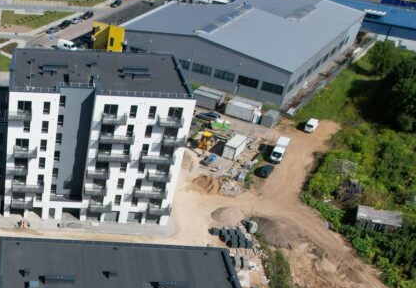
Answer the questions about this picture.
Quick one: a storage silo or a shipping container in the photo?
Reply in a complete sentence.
It is a shipping container that can be seen here.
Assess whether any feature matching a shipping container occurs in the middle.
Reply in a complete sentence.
Yes, you'll find a shipping container in the middle.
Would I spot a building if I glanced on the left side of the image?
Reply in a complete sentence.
Yes, you'll find a building on the left side of the image.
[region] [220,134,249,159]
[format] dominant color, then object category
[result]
white shipping container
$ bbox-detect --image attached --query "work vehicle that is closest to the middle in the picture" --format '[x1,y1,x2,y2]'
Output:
[193,133,214,148]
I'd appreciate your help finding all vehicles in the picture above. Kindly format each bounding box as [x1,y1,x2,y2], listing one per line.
[192,111,215,121]
[255,165,271,178]
[57,37,76,48]
[58,21,74,29]
[304,116,317,132]
[44,28,61,35]
[272,131,291,158]
[69,17,83,24]
[193,133,214,148]
[80,12,95,19]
